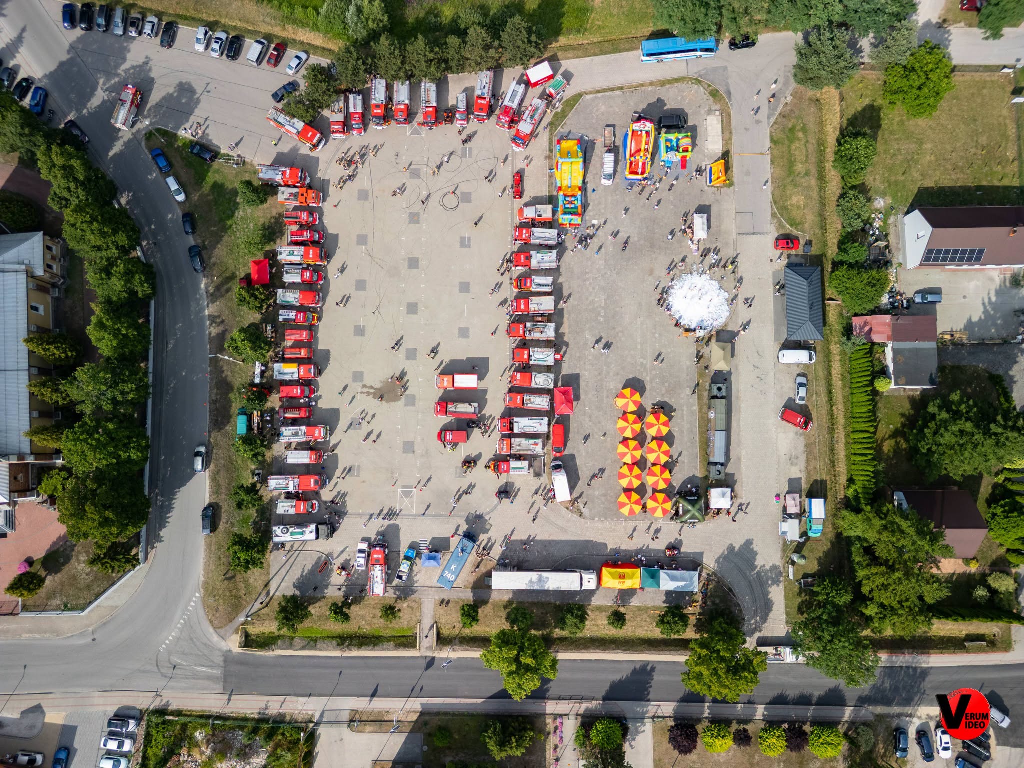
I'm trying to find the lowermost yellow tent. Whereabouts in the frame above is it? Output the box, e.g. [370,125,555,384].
[596,557,641,591]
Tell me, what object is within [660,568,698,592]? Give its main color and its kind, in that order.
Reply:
white tent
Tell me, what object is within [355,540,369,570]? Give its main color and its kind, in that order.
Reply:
white car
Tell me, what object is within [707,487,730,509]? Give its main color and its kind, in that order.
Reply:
white tent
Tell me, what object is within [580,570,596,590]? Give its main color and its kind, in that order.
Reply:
white vehicle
